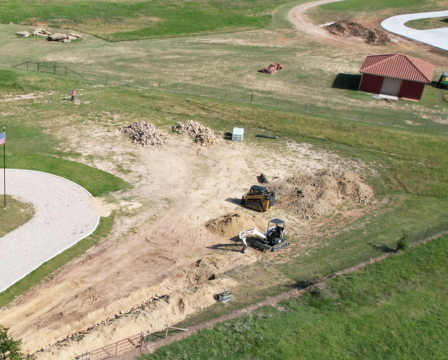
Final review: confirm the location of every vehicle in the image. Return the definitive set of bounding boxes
[239,217,293,255]
[438,71,448,88]
[230,184,280,212]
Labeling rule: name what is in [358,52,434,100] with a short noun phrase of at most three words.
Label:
shed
